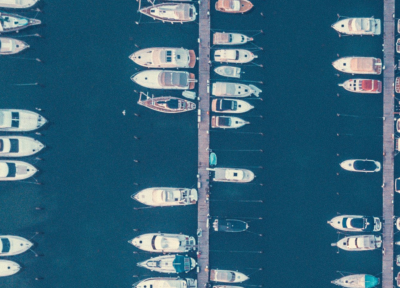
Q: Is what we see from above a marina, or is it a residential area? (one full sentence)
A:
The picture captures a marina.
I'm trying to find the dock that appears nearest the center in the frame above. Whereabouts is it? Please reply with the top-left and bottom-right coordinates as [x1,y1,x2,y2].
[197,0,210,288]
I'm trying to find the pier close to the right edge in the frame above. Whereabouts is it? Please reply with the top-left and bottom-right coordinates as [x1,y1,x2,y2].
[382,0,395,288]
